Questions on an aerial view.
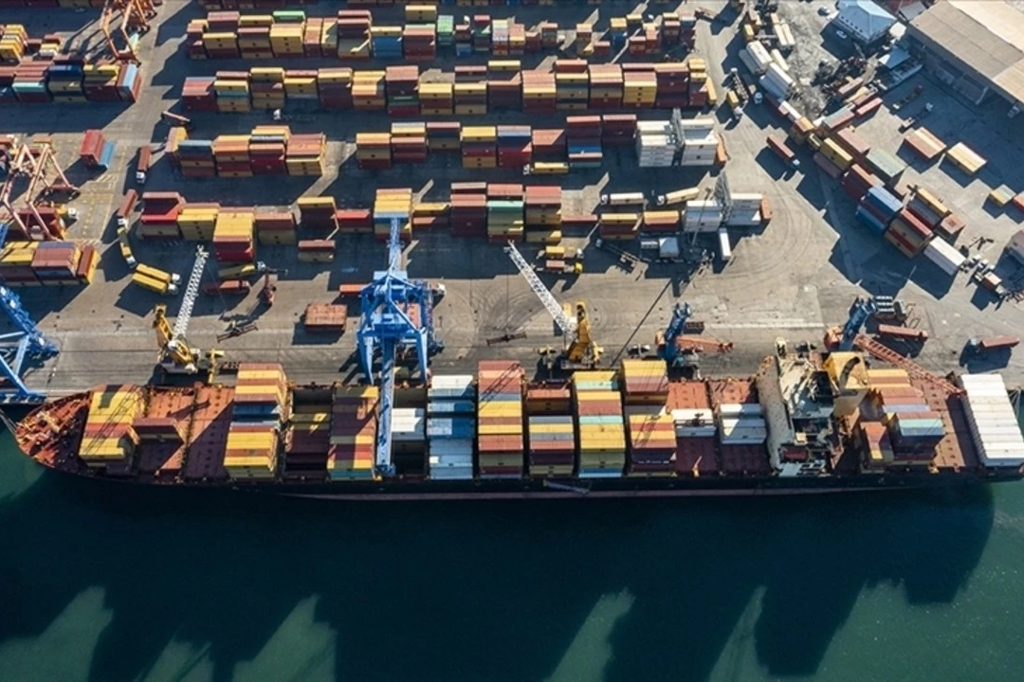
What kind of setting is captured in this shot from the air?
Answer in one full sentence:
The area seen from above is a port.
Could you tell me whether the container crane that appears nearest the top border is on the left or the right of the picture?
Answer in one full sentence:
It is on the left.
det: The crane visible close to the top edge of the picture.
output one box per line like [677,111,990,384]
[92,0,155,62]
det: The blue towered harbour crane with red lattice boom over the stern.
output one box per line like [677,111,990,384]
[800,297,969,390]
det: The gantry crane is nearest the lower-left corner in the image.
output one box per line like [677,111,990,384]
[0,295,62,389]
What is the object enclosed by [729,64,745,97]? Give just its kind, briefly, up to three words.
vehicle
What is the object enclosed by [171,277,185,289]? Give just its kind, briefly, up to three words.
vehicle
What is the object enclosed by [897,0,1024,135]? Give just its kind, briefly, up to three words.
warehouse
